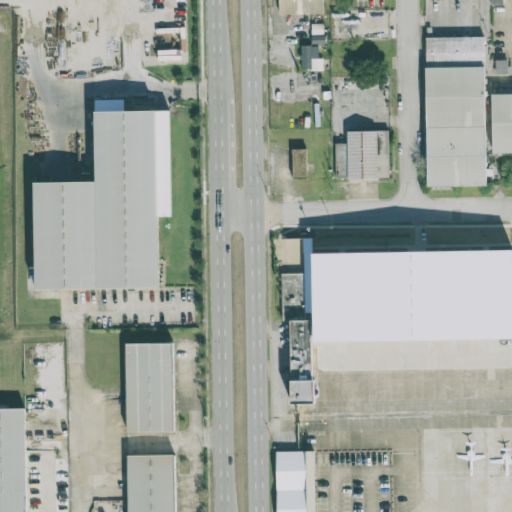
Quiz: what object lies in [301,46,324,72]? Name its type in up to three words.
house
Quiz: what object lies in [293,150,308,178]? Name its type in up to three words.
building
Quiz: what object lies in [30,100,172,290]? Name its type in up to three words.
warehouse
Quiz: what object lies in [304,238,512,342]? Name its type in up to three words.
hangar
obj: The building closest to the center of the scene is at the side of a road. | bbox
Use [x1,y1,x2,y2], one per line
[274,239,300,265]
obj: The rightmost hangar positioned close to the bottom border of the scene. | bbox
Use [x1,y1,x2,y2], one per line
[276,451,316,512]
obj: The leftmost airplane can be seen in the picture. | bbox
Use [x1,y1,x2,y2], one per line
[458,442,486,476]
